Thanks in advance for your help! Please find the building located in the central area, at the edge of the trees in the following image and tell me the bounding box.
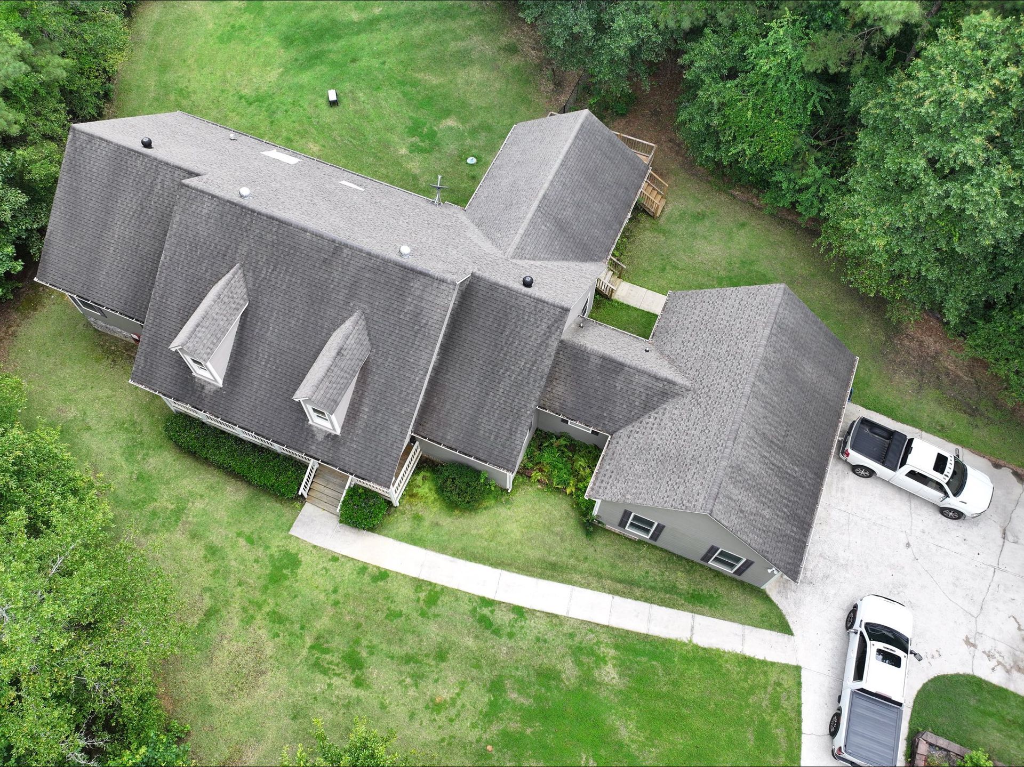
[34,109,860,590]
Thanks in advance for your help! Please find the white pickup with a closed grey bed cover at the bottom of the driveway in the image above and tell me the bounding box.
[831,594,931,767]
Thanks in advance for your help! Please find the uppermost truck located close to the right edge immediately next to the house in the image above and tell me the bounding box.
[835,411,996,521]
